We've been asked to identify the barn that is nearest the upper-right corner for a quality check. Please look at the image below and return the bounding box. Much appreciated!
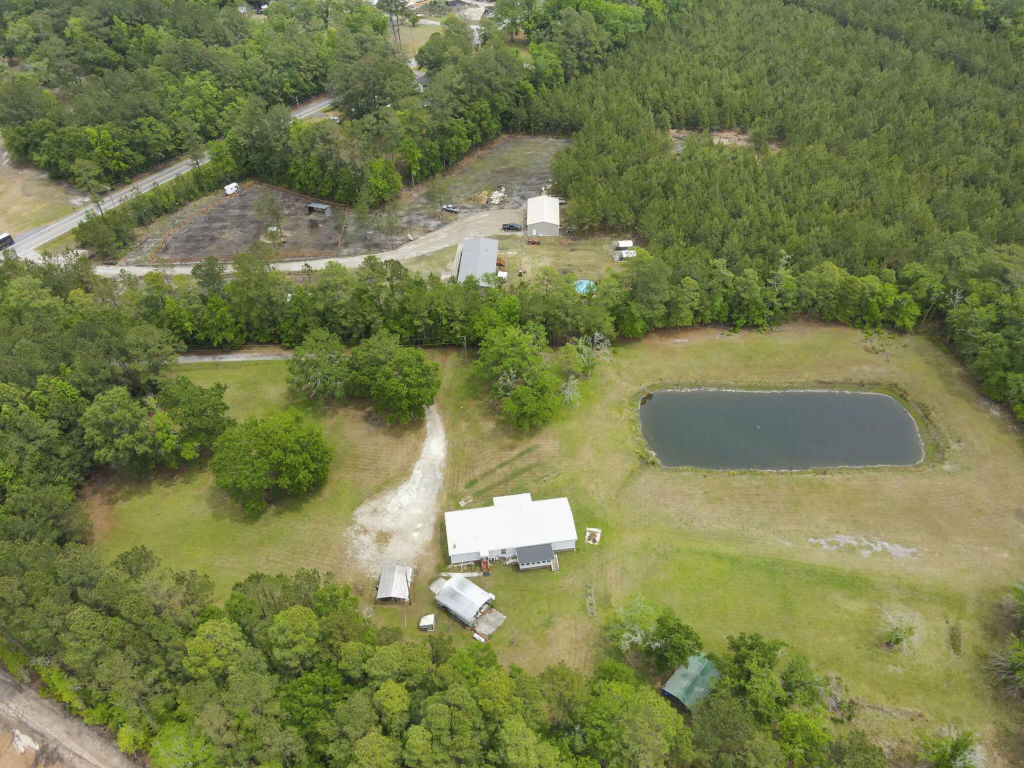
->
[527,196,560,236]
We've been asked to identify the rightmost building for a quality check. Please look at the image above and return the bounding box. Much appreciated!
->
[661,653,721,719]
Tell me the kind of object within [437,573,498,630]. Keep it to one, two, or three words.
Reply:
building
